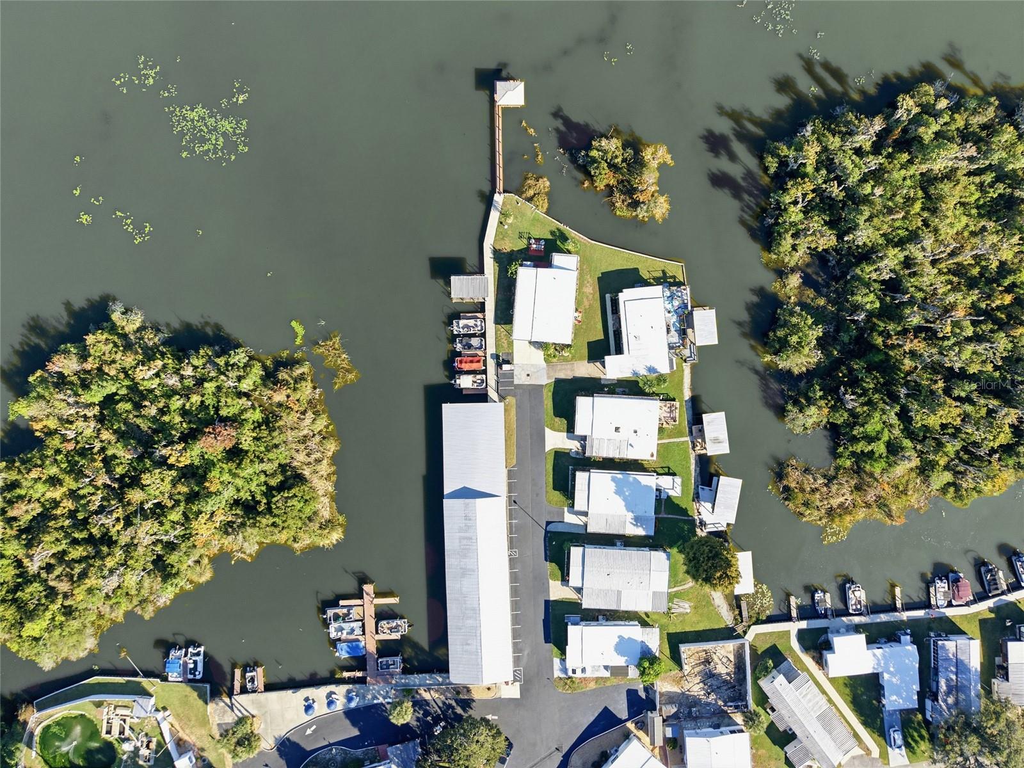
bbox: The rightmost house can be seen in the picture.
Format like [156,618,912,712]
[983,620,1024,706]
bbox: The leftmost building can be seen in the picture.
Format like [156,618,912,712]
[133,692,158,716]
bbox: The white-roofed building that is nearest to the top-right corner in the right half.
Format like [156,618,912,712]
[687,307,718,357]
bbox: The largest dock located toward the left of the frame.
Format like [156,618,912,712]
[361,583,379,683]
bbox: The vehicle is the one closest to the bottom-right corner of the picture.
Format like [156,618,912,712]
[890,727,905,752]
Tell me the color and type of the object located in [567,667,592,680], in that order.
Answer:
white vehicle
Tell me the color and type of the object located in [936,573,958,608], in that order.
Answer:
white boat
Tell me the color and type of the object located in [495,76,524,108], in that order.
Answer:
white gazebo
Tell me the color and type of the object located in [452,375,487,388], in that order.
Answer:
white boat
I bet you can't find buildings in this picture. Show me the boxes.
[575,394,659,459]
[133,692,158,716]
[983,620,1024,706]
[683,722,750,768]
[451,276,488,302]
[646,707,662,746]
[598,730,664,768]
[693,412,730,456]
[699,475,742,531]
[687,307,718,357]
[569,544,669,612]
[925,632,980,726]
[574,470,683,536]
[442,402,513,684]
[753,658,859,768]
[564,614,659,677]
[513,254,578,344]
[730,548,754,595]
[664,722,678,737]
[822,625,920,710]
[604,286,675,378]
[174,744,202,768]
[677,635,754,712]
